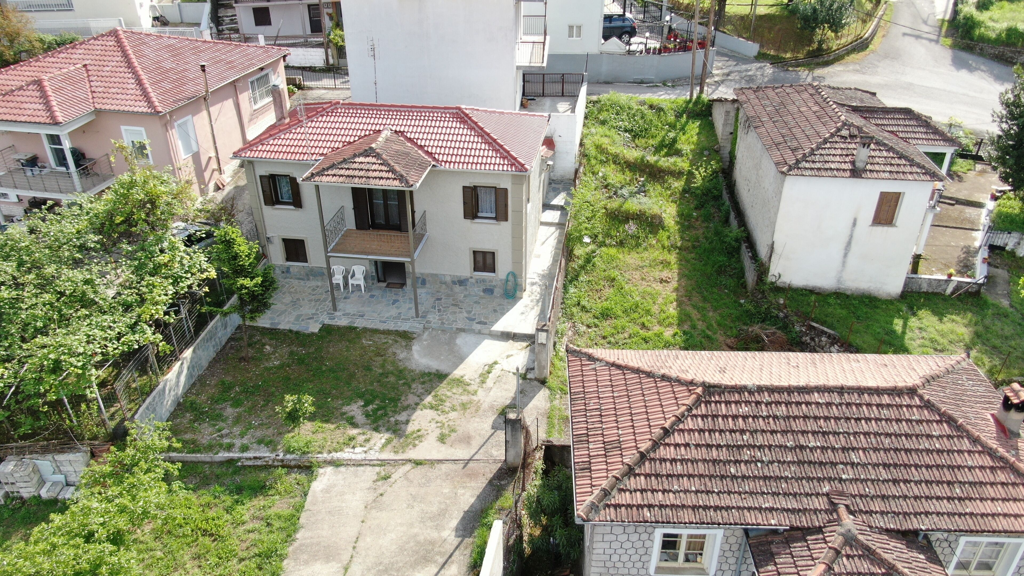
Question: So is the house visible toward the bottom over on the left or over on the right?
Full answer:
The house visible toward the bottom sits on the right side.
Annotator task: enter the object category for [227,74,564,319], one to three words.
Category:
house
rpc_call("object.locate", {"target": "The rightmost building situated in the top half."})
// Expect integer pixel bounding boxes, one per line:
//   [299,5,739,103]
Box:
[733,79,965,297]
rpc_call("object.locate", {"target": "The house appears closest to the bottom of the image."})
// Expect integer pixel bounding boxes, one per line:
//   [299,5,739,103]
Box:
[565,341,1024,576]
